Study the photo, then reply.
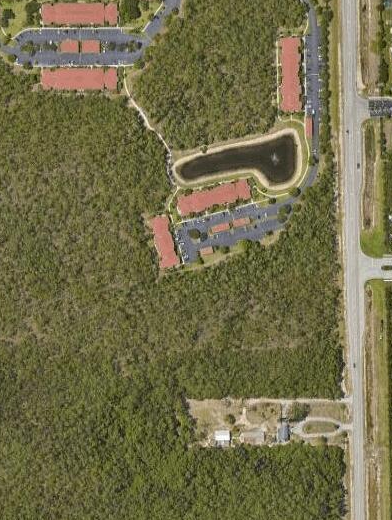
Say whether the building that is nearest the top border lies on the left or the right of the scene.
left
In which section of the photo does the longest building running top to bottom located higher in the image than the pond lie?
top right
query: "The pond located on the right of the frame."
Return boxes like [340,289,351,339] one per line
[180,135,297,186]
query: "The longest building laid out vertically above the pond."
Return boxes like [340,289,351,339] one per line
[279,36,302,110]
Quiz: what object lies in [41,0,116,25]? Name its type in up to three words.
building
